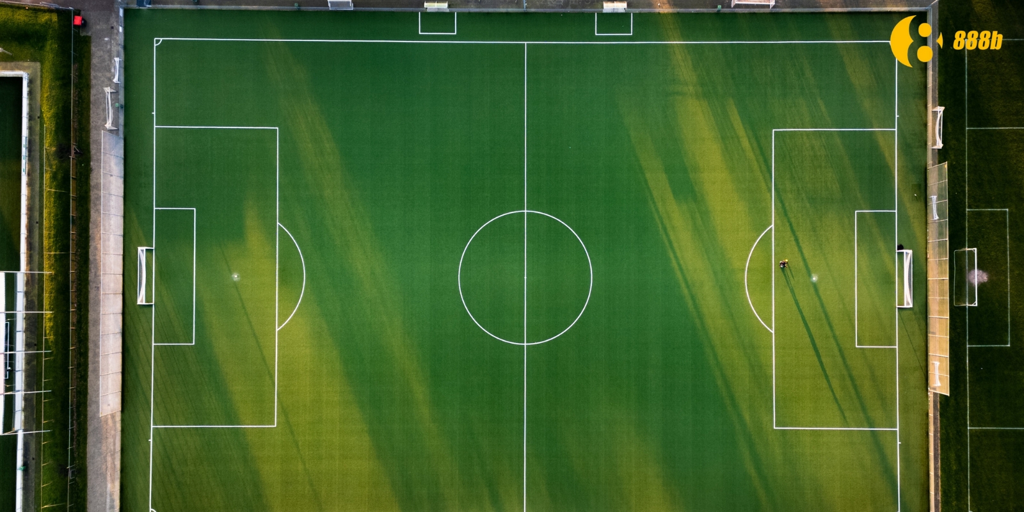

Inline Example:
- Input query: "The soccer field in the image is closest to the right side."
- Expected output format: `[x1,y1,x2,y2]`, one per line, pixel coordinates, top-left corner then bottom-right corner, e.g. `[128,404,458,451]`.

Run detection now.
[942,0,1024,512]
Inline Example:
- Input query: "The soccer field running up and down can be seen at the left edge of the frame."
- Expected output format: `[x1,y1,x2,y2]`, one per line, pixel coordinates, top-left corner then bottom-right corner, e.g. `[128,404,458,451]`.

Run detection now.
[0,76,28,512]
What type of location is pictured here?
sports ground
